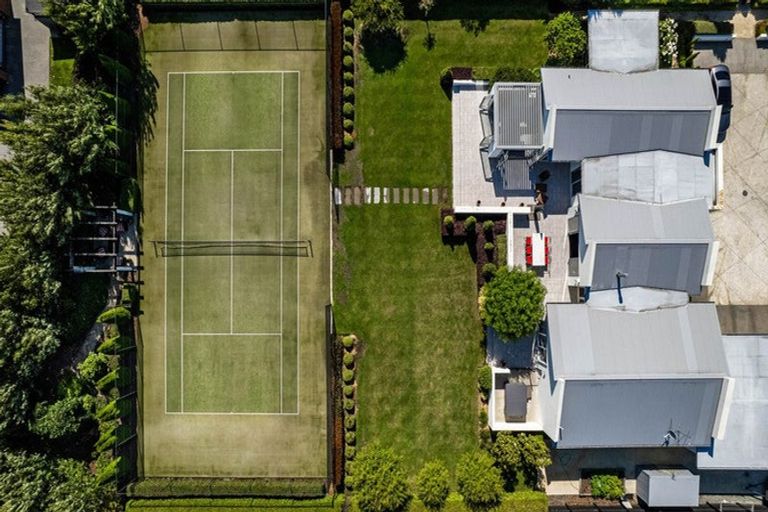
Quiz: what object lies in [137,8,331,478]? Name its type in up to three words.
tennis court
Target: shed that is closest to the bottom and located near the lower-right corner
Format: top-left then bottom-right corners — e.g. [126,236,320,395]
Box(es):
[635,464,700,506]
